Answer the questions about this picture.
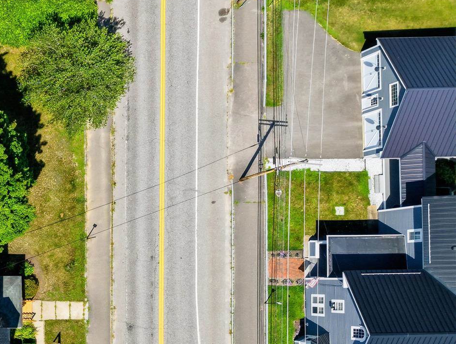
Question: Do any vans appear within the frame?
No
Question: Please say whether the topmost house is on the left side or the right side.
right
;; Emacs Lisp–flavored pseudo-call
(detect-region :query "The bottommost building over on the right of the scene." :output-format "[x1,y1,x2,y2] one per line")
[294,194,456,344]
